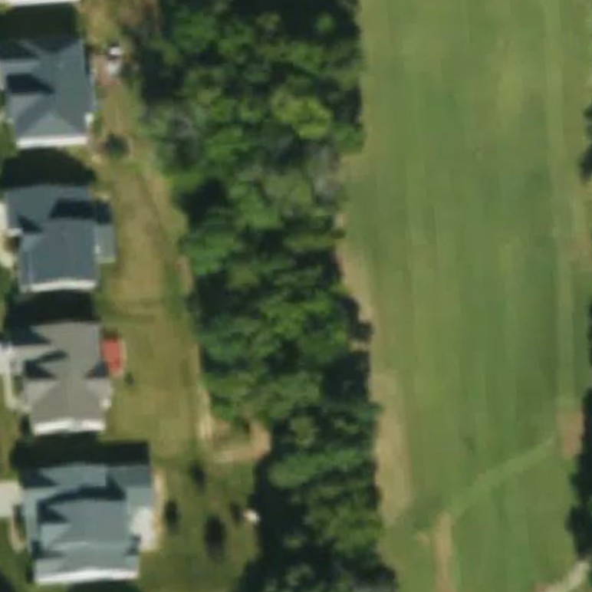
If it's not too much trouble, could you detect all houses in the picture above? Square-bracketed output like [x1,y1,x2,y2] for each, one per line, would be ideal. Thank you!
[14,463,153,588]
[1,181,117,294]
[0,321,123,431]
[0,40,99,146]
